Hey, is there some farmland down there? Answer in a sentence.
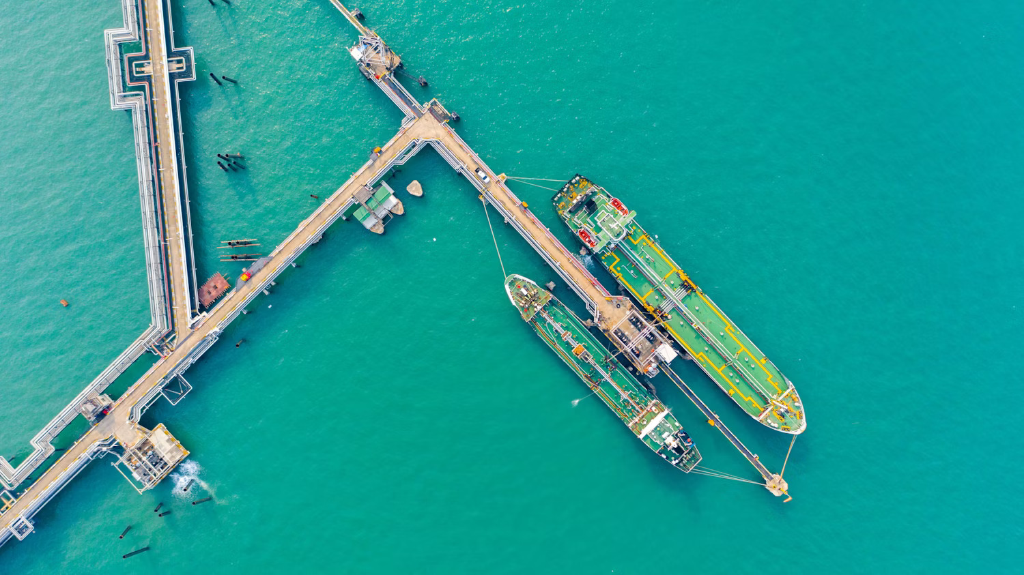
No, no farmland is visible.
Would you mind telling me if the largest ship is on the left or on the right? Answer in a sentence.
It is on the right.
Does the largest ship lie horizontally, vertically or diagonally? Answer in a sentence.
Seen from above, the largest ship lies diagonally.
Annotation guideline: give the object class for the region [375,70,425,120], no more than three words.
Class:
pier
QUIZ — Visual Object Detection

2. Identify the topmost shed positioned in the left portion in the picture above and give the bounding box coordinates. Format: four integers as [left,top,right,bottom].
[351,180,399,230]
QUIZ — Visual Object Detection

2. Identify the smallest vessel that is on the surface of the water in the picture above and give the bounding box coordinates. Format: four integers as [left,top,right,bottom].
[505,274,702,473]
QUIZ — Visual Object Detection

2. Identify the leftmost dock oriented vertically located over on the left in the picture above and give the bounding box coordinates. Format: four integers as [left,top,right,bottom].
[125,0,207,357]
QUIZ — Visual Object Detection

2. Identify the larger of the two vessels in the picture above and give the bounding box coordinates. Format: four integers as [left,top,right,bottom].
[551,174,806,435]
